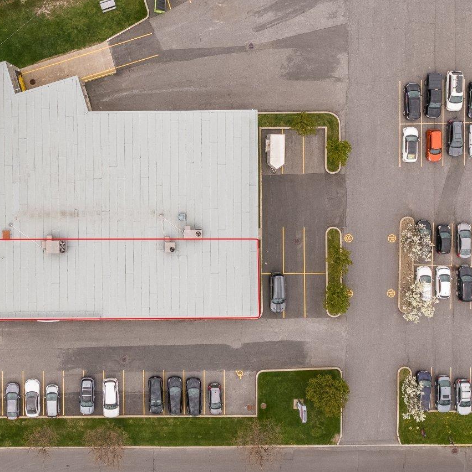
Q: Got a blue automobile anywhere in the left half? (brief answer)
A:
No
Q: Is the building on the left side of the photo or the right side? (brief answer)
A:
left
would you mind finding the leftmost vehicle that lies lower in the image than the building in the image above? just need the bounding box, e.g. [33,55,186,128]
[4,383,21,420]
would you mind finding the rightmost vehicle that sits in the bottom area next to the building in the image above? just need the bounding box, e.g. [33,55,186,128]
[269,272,287,313]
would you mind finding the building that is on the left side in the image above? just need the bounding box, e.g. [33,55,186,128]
[0,61,265,320]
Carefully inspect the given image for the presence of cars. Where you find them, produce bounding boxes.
[454,264,472,303]
[167,375,184,416]
[453,378,472,415]
[424,130,444,162]
[403,83,423,121]
[445,120,465,156]
[415,370,434,413]
[78,376,97,415]
[23,377,42,418]
[186,376,202,417]
[147,375,165,414]
[466,82,472,119]
[454,222,472,258]
[445,72,465,111]
[4,383,21,420]
[45,384,60,418]
[415,219,434,251]
[416,266,434,301]
[269,272,287,313]
[435,374,452,413]
[401,127,421,162]
[208,382,224,415]
[101,378,120,418]
[434,266,453,299]
[436,224,453,254]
